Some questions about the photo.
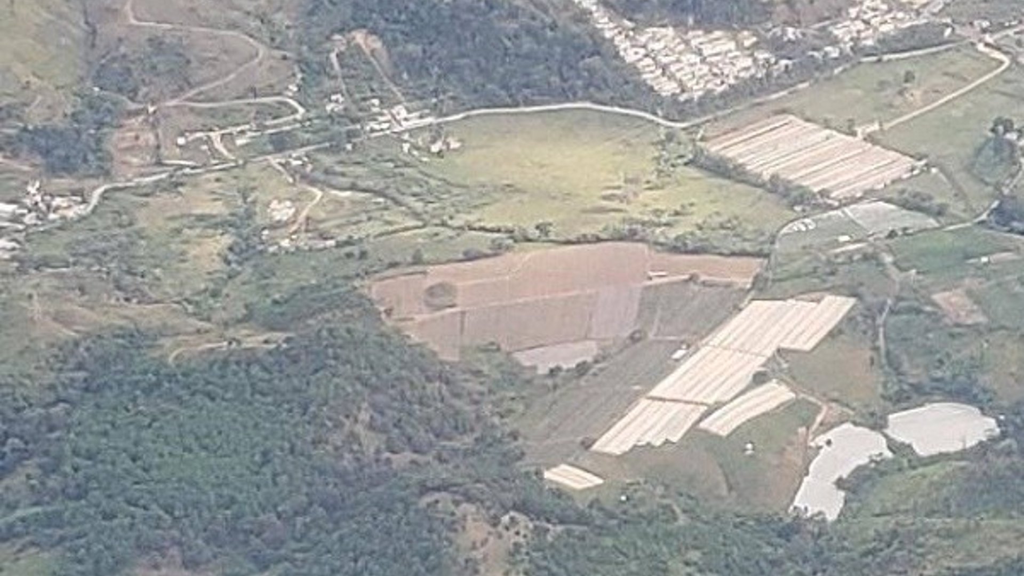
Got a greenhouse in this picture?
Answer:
Yes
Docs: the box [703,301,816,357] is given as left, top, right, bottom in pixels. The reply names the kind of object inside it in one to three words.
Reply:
greenhouse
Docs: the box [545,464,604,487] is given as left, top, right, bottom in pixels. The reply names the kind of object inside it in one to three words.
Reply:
greenhouse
